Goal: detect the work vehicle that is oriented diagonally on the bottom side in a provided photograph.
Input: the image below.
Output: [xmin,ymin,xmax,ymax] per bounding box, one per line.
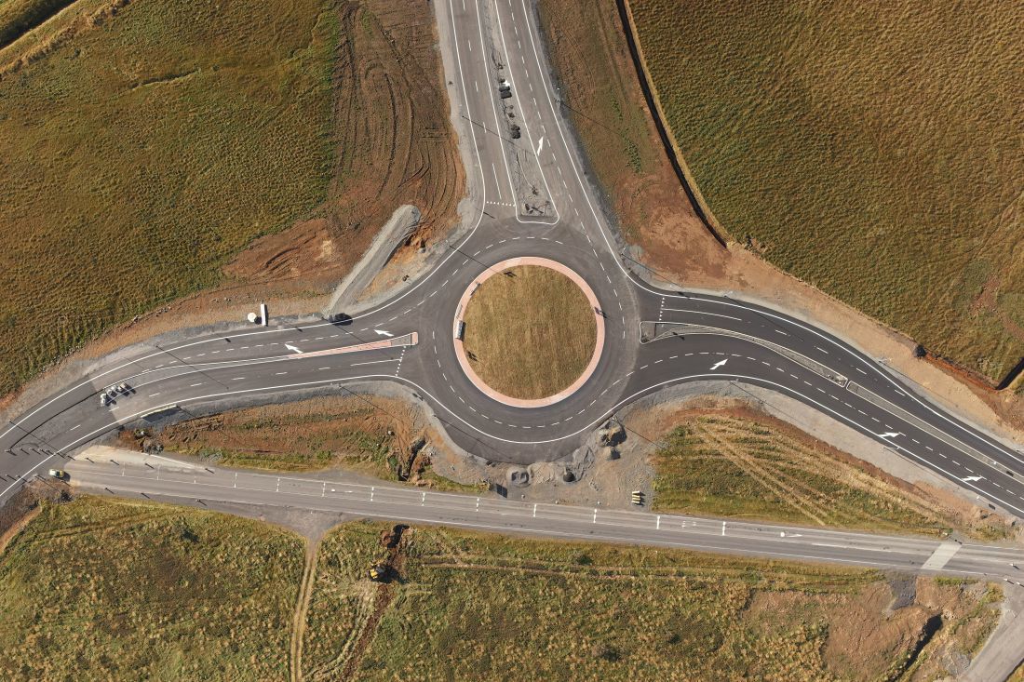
[366,563,388,584]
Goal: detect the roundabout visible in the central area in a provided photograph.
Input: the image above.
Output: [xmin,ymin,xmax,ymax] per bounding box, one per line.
[403,210,640,465]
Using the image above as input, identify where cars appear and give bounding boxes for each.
[328,313,346,322]
[46,469,64,479]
